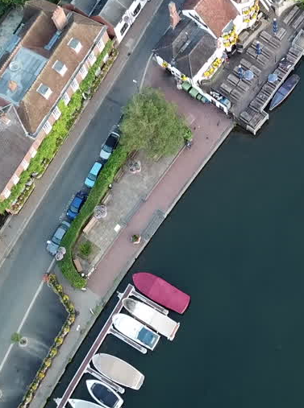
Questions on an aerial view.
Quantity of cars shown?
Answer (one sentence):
The count of cars comes to 4.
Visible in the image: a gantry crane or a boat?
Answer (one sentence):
Looking from above, you can make out a boat.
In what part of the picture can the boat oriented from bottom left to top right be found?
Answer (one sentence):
The boat oriented from bottom left to top right is located in the top right region of the scene.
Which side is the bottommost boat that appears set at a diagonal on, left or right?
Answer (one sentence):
The bottommost boat that appears set at a diagonal appears in the left half of the scene.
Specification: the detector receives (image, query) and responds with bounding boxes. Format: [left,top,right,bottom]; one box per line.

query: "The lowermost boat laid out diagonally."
[86,380,125,408]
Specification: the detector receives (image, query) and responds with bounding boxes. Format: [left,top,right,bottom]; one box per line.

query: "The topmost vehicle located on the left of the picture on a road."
[97,129,119,159]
